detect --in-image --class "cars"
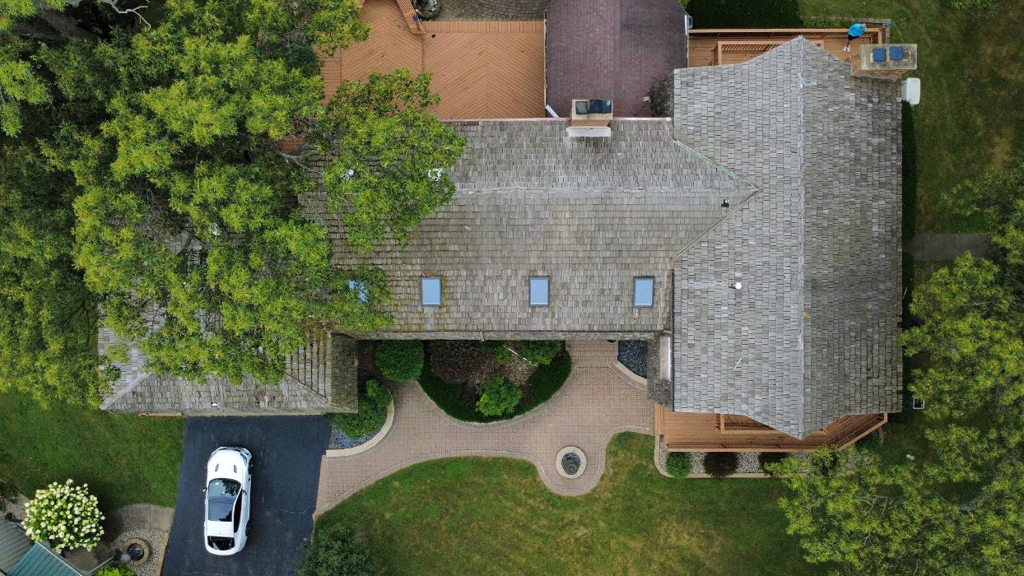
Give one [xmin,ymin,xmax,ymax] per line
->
[199,441,255,558]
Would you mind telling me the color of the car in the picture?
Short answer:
white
